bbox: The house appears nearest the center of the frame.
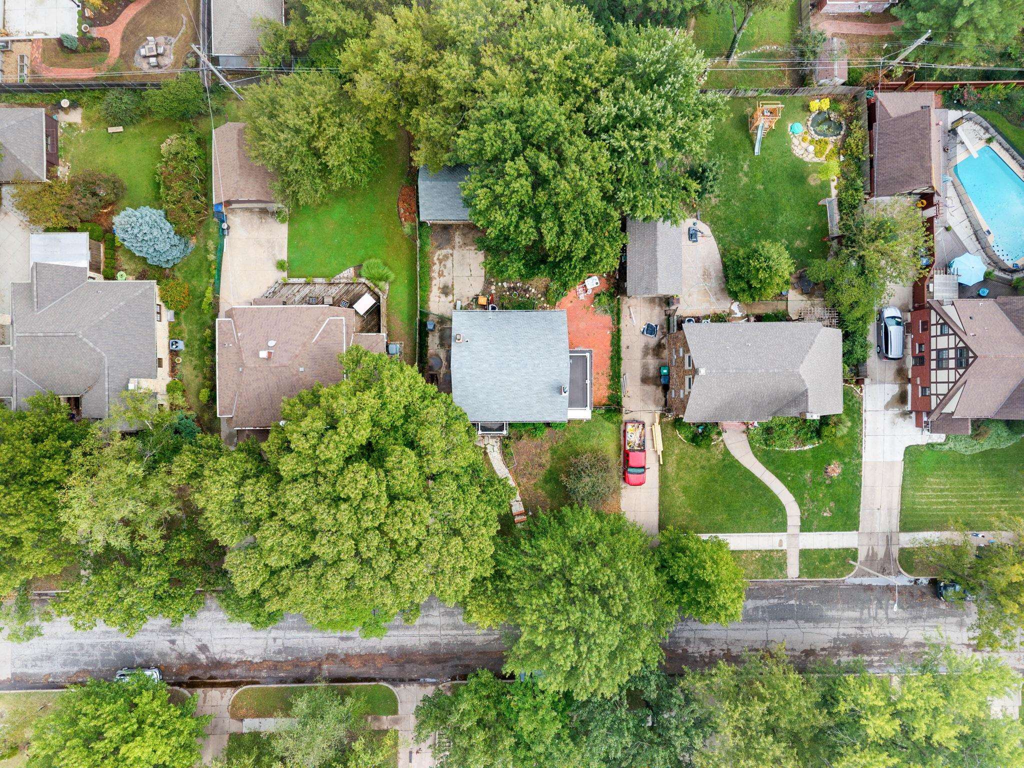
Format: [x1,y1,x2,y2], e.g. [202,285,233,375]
[451,309,593,435]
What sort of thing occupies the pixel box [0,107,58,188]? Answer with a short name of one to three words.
building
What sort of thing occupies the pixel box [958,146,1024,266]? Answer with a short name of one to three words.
swimming pool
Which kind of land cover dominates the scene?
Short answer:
trees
